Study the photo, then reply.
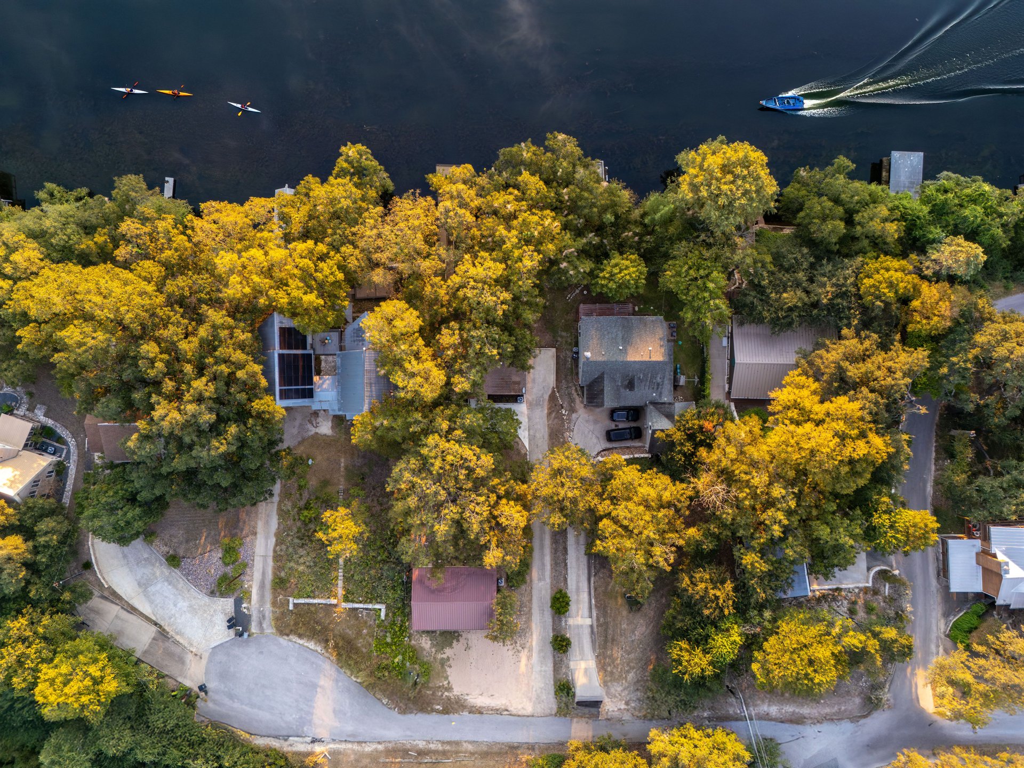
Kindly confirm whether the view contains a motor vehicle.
Yes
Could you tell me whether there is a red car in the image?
No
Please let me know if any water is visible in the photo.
Yes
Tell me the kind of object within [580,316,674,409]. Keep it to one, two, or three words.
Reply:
house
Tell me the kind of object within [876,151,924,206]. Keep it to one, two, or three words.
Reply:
building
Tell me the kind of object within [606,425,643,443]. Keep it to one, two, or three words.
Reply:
car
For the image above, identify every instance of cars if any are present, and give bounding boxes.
[610,408,641,424]
[606,425,643,443]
